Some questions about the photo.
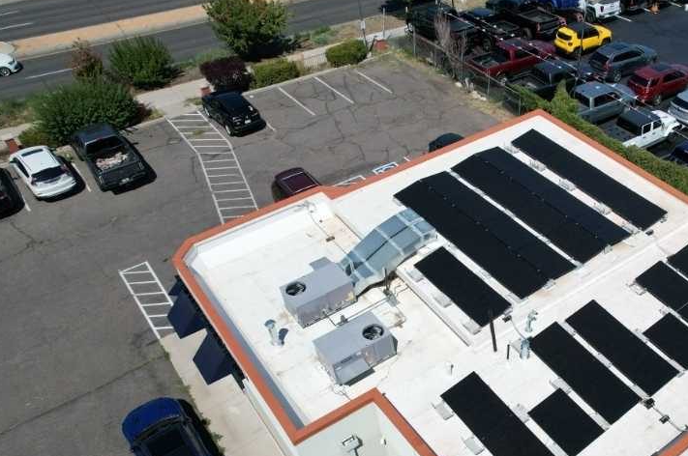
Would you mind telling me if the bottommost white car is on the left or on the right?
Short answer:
left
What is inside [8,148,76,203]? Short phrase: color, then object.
white car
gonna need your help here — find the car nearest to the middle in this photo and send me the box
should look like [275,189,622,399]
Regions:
[272,172,316,203]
